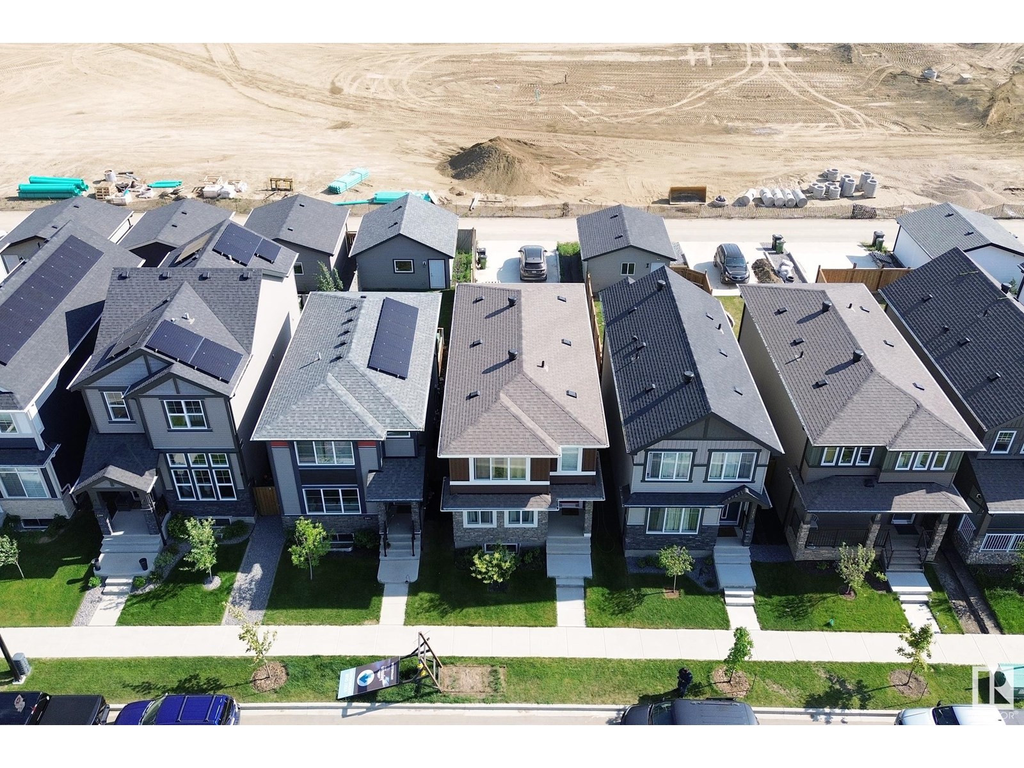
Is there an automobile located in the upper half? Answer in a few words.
Yes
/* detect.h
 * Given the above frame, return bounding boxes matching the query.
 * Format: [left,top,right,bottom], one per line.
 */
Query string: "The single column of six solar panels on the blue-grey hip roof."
[370,296,420,379]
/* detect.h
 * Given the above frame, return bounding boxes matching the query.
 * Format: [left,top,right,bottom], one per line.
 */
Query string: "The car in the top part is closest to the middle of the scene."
[517,239,549,273]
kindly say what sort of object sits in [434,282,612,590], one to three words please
house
